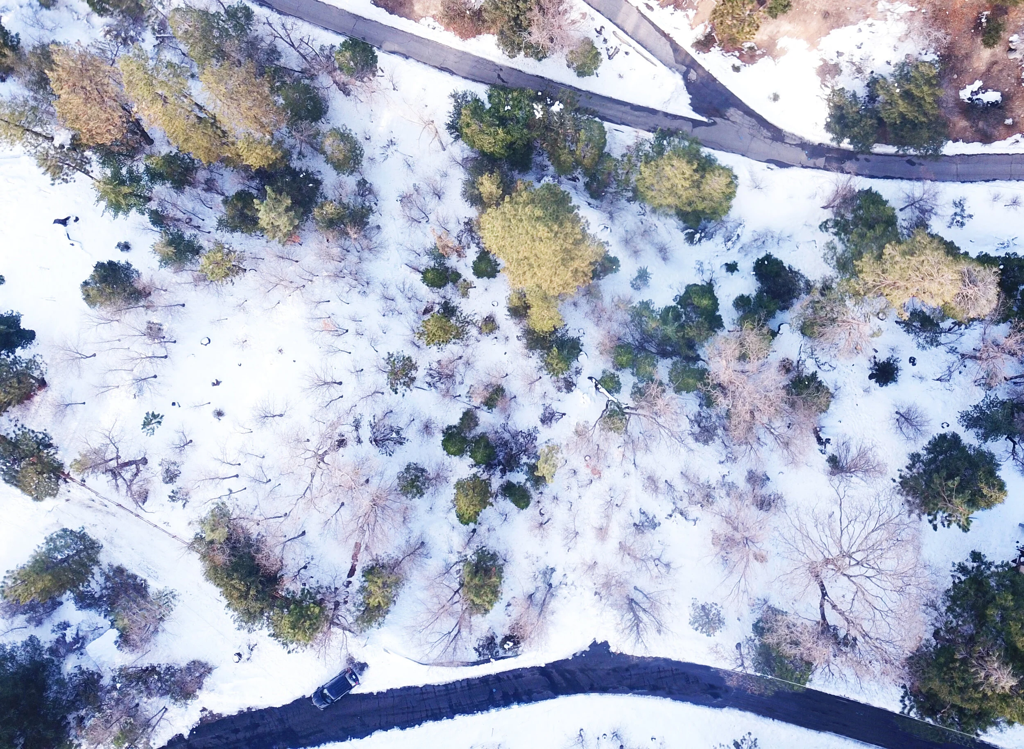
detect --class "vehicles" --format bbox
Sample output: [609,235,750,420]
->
[311,667,361,709]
